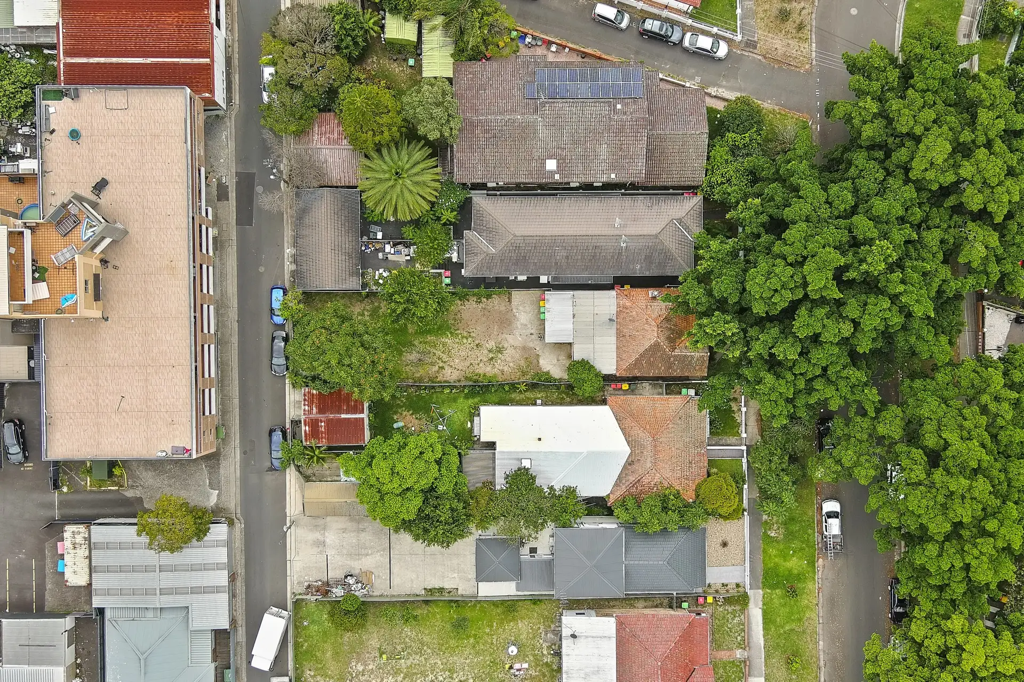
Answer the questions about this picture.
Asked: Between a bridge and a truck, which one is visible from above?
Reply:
truck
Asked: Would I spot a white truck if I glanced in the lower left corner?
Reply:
Yes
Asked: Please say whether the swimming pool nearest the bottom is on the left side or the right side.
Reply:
left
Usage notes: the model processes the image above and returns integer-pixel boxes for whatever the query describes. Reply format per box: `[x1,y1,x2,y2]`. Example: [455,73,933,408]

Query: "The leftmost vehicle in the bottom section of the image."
[3,417,30,463]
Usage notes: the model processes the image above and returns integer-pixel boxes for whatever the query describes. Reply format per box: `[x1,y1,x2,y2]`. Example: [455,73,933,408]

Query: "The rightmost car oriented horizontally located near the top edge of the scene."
[681,34,728,60]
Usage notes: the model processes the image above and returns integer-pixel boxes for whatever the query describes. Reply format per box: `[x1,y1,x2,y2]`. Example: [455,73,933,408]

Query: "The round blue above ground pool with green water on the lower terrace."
[14,200,41,220]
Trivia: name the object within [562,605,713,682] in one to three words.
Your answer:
house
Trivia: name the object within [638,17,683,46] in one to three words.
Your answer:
car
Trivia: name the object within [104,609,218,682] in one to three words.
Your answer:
building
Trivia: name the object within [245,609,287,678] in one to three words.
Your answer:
truck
